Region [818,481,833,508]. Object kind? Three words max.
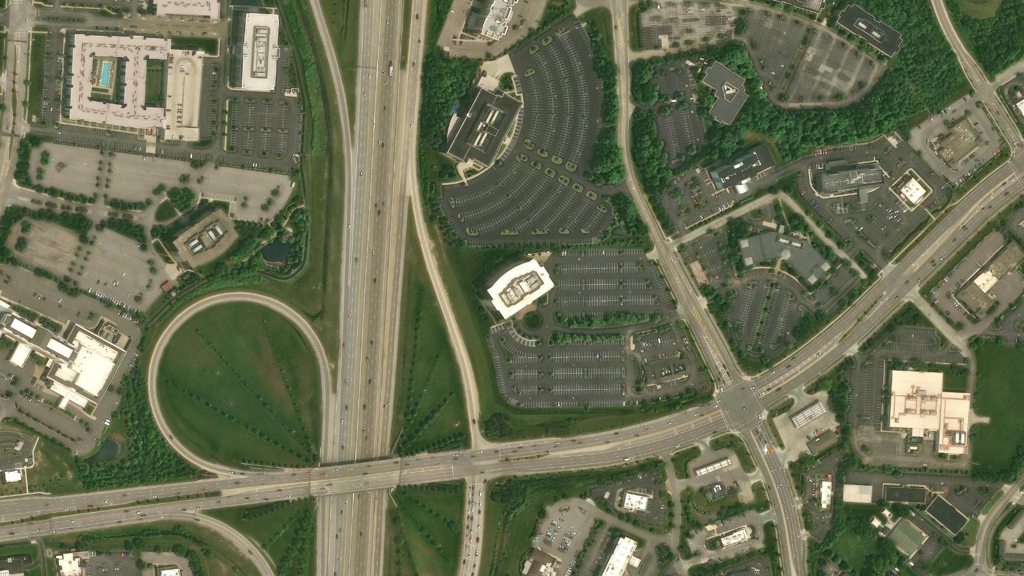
building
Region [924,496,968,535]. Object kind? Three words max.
building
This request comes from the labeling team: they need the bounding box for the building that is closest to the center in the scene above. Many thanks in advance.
[478,258,555,319]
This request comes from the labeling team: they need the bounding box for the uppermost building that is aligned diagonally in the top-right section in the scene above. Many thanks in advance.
[832,4,903,57]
